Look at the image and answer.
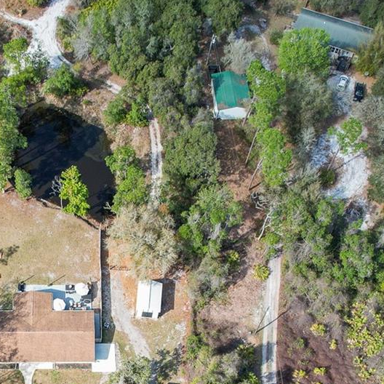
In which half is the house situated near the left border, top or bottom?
bottom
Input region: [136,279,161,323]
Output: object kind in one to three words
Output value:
shed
